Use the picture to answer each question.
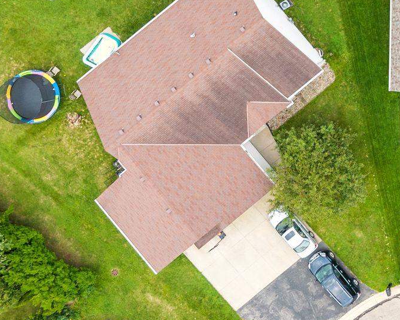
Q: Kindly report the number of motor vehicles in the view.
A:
2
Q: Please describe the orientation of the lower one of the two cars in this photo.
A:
at an angle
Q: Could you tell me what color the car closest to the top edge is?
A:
white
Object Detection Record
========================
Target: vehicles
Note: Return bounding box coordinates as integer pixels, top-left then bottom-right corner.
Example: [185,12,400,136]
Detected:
[306,252,362,318]
[268,205,319,264]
